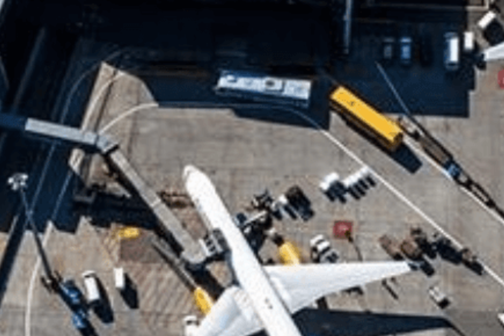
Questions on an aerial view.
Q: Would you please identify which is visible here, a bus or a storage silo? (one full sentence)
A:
I can see a bus in this picture.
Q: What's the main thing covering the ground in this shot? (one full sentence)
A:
What you mostly see from above here is paved ground.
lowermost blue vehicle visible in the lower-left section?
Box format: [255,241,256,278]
[71,312,95,336]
